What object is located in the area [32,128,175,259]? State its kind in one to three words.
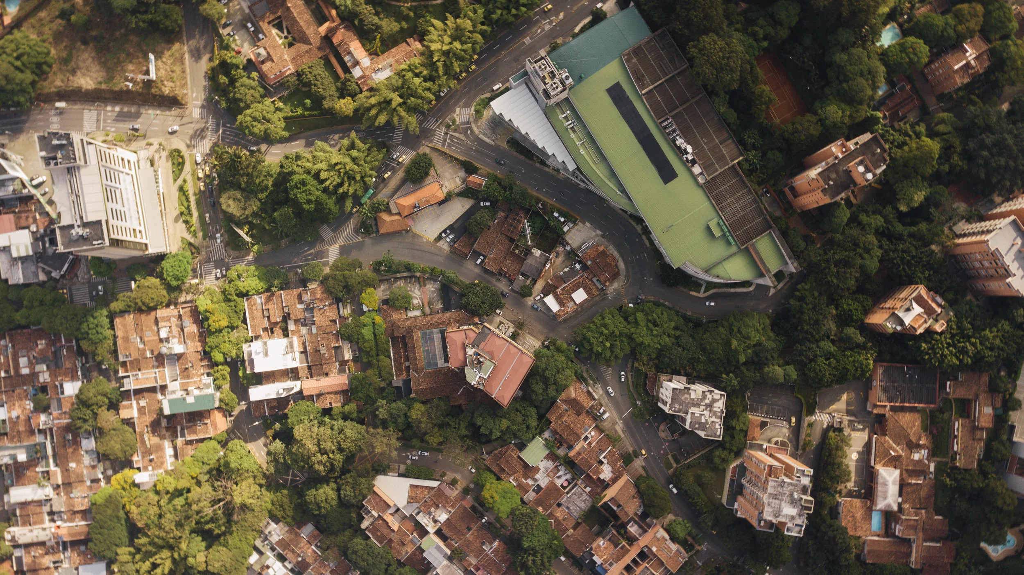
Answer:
building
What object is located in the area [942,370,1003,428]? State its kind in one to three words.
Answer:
house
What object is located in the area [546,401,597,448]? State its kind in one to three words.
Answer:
house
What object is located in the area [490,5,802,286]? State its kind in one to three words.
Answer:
building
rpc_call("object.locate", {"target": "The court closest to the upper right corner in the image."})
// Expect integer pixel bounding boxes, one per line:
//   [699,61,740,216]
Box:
[757,55,803,119]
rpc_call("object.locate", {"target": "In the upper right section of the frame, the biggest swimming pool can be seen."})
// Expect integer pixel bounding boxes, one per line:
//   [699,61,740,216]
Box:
[875,22,903,48]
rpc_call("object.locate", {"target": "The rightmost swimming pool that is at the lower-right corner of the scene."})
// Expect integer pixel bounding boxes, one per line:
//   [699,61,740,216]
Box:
[981,525,1024,560]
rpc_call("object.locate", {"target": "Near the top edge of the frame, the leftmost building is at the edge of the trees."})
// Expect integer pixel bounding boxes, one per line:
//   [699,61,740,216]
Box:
[248,0,331,88]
